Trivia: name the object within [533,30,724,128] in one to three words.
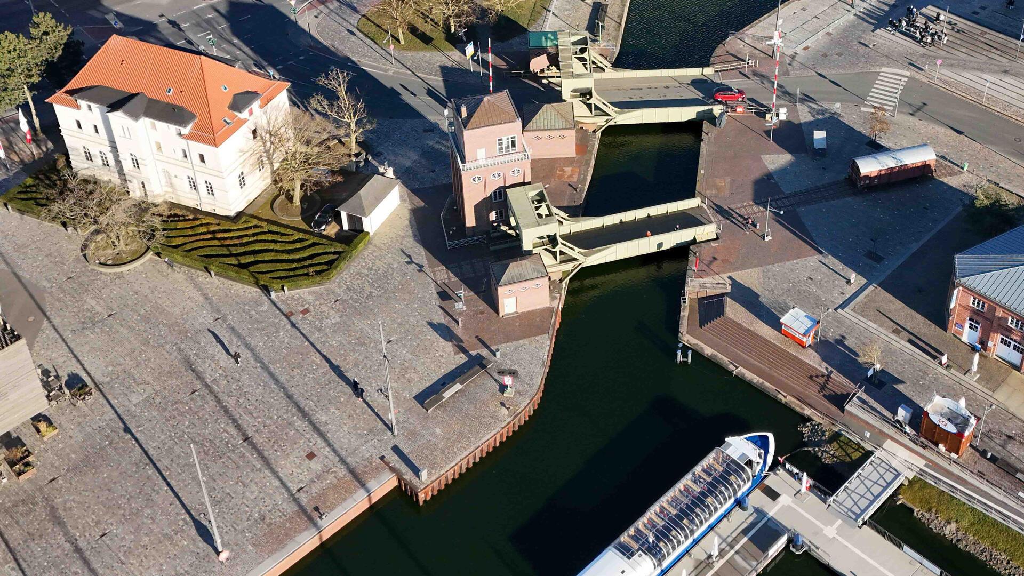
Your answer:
bridge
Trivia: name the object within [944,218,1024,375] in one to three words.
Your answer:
building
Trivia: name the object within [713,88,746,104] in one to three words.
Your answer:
car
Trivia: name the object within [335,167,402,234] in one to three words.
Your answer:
building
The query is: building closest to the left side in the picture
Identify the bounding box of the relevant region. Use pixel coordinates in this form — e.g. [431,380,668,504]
[0,309,50,433]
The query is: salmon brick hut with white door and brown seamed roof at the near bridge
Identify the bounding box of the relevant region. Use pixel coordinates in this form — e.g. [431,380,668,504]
[487,252,550,319]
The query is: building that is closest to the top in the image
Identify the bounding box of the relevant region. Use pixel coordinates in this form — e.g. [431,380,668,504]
[528,18,578,69]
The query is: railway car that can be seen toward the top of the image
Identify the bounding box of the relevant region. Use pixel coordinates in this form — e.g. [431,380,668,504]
[847,140,941,183]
